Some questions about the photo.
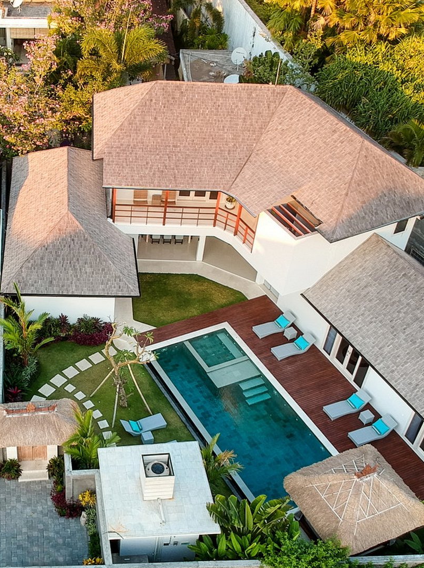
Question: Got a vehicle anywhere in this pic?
No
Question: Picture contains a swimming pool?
Yes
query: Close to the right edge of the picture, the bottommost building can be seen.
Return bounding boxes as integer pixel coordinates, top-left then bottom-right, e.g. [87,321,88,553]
[282,444,424,561]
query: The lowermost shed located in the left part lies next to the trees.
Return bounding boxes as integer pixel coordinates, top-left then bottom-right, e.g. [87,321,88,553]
[98,441,221,559]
